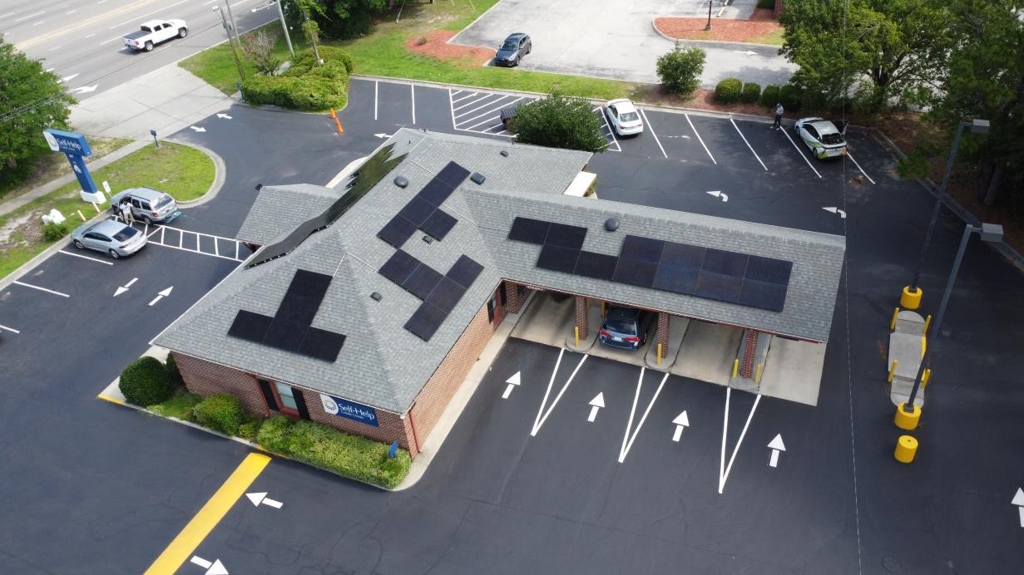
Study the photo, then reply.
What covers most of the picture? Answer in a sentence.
The bulk of the photo consists of paved ground.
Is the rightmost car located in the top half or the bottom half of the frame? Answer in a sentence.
You can find the rightmost car in the top half.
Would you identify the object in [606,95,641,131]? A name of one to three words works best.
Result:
car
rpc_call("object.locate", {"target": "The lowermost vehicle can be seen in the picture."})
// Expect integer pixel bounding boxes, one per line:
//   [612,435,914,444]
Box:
[602,305,657,351]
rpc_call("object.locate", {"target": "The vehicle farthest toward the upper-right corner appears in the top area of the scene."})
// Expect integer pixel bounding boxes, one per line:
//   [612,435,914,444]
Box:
[796,115,850,155]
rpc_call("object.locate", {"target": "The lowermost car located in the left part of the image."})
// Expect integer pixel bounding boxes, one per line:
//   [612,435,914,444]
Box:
[62,216,144,259]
